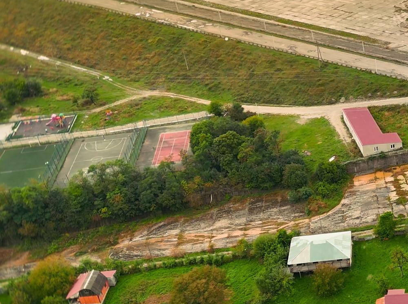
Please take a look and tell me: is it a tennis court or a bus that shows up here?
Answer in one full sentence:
This aerial view contains a tennis court.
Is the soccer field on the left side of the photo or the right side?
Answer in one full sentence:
The soccer field appears in the left half of the scene.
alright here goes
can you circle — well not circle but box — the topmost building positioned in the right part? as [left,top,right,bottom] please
[343,107,402,154]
